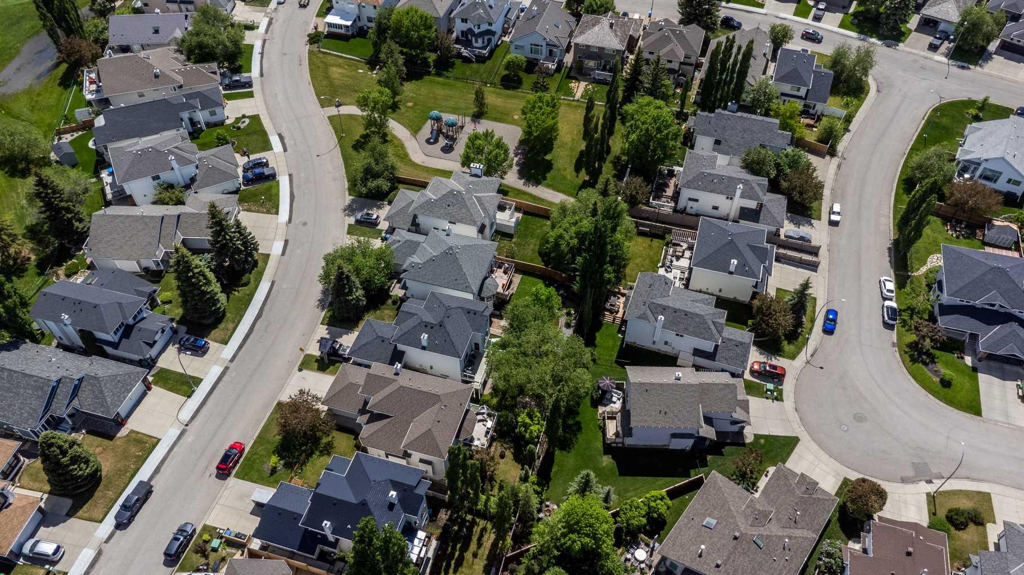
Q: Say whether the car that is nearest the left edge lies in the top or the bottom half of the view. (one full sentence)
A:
Seen from above, the car that is nearest the left edge lies in the bottom half of the view.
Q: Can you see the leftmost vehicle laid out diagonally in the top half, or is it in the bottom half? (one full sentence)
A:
It is in the bottom half that the leftmost vehicle laid out diagonally appears.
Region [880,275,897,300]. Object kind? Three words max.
car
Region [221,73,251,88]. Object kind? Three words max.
vehicle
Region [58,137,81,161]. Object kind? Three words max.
shed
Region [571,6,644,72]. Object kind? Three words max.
house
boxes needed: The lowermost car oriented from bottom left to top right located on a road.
[158,519,194,563]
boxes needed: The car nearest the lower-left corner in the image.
[19,538,62,562]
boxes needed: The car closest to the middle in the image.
[352,210,382,224]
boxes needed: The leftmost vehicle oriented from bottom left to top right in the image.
[111,478,152,526]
